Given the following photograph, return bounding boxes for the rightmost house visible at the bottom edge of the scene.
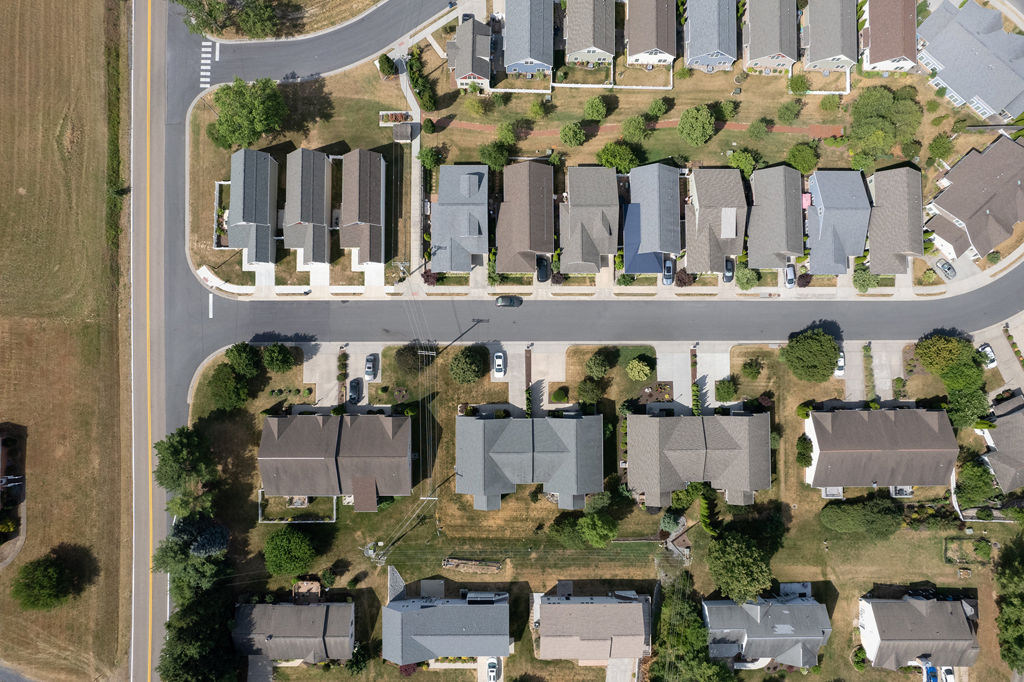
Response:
[860,587,986,676]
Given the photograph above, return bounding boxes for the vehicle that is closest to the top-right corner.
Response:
[934,256,956,281]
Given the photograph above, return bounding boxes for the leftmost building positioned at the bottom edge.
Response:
[234,582,355,666]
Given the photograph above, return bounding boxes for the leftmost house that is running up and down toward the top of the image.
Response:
[225,150,277,264]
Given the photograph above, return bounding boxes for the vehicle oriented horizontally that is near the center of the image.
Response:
[495,295,522,308]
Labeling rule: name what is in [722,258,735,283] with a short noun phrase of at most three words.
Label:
vehicle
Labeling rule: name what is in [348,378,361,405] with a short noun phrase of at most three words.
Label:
vehicle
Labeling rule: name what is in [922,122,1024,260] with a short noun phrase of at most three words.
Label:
house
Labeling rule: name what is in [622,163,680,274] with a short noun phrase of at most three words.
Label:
house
